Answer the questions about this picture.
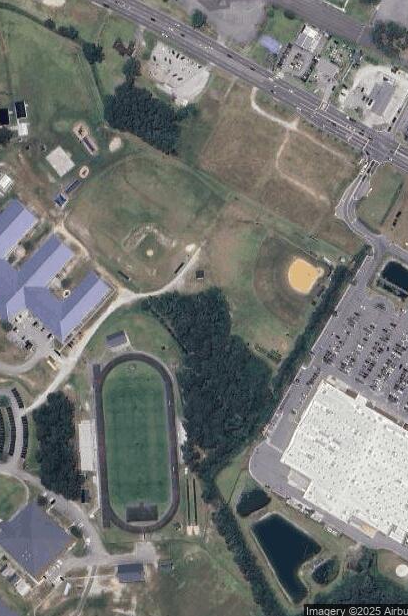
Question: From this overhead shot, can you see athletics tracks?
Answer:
Yes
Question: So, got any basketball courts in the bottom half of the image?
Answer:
No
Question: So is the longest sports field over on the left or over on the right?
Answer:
left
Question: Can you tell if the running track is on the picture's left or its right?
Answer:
left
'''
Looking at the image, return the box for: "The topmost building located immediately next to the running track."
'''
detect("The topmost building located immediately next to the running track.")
[0,200,113,339]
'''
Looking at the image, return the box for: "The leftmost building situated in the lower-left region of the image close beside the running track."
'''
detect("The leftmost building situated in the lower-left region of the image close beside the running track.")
[0,500,76,578]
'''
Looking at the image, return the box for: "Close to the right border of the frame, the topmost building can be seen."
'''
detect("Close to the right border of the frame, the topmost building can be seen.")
[370,82,396,116]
